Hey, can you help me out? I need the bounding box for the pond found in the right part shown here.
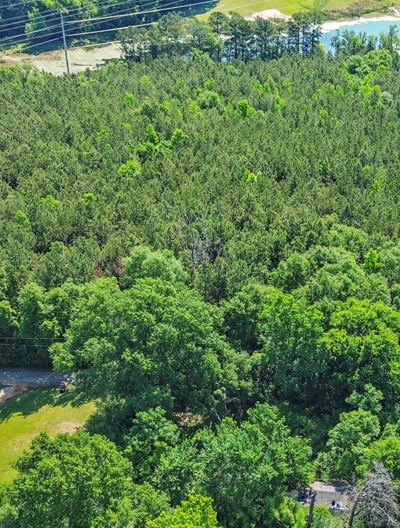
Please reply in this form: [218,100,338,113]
[179,22,400,76]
